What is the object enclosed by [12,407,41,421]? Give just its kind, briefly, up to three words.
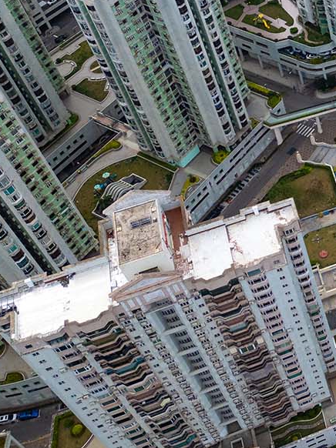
vehicle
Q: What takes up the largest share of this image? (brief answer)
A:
buildings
